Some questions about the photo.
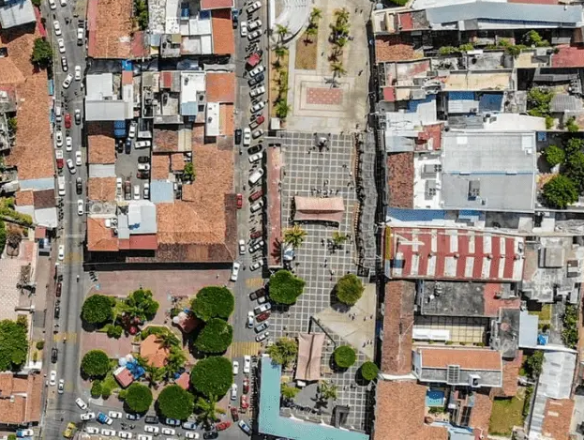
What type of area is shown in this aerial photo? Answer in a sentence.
It's a residential area.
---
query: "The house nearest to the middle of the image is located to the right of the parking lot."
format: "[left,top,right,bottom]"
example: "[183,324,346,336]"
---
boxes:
[265,143,283,266]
